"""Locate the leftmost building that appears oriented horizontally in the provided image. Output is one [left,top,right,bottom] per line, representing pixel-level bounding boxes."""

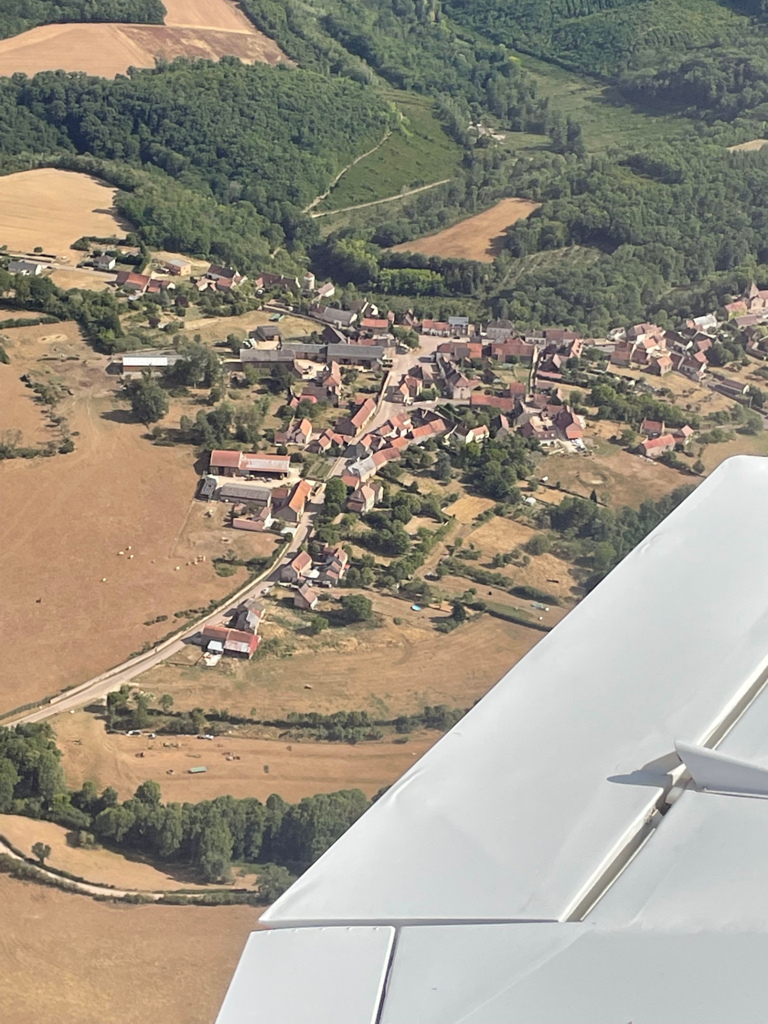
[7,262,41,275]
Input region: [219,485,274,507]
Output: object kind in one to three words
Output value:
barn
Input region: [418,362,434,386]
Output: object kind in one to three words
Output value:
house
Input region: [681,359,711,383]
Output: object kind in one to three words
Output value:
house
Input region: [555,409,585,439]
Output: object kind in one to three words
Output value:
barn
